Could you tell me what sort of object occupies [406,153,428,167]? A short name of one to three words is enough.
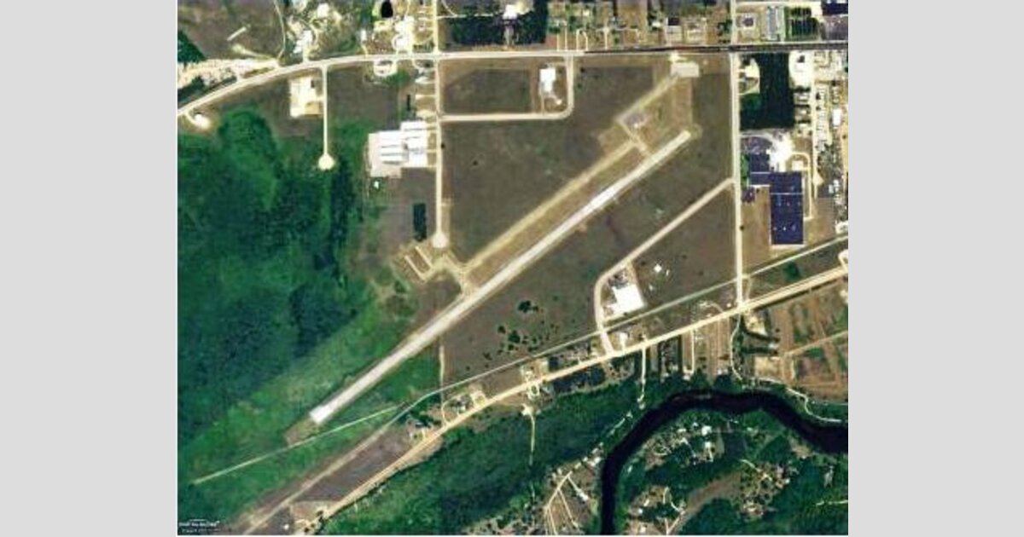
building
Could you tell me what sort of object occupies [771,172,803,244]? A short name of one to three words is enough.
building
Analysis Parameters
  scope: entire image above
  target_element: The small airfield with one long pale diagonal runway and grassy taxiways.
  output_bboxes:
[310,72,691,424]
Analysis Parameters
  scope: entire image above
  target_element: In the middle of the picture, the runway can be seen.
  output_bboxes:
[310,131,691,424]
